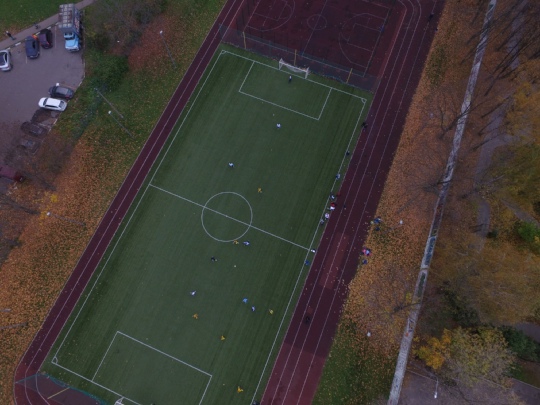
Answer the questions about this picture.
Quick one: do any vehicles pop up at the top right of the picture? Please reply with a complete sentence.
No, I can find no vehicle at the top right of the picture.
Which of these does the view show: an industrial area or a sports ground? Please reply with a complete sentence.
This image shows a sports ground.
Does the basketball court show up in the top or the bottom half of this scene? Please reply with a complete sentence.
The basketball court is in the top half of the image.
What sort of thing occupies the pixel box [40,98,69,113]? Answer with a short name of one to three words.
car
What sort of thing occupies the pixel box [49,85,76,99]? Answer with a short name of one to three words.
car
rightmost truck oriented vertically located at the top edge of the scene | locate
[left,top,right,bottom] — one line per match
[59,9,84,55]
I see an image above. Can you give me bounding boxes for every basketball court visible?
[222,0,396,89]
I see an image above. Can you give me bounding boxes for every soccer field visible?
[38,42,374,405]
